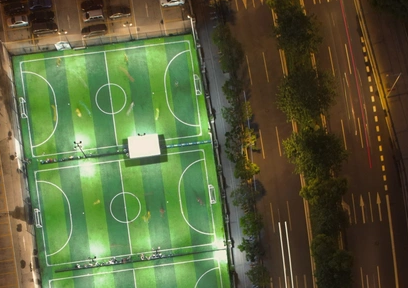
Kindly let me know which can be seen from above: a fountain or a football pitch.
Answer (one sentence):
This aerial view contains a football pitch.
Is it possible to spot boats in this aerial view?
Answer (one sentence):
No, there appears to be no boat in this shot.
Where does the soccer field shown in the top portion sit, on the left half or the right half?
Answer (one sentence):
It is on the left.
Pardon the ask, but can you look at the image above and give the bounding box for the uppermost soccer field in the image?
[11,34,205,165]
